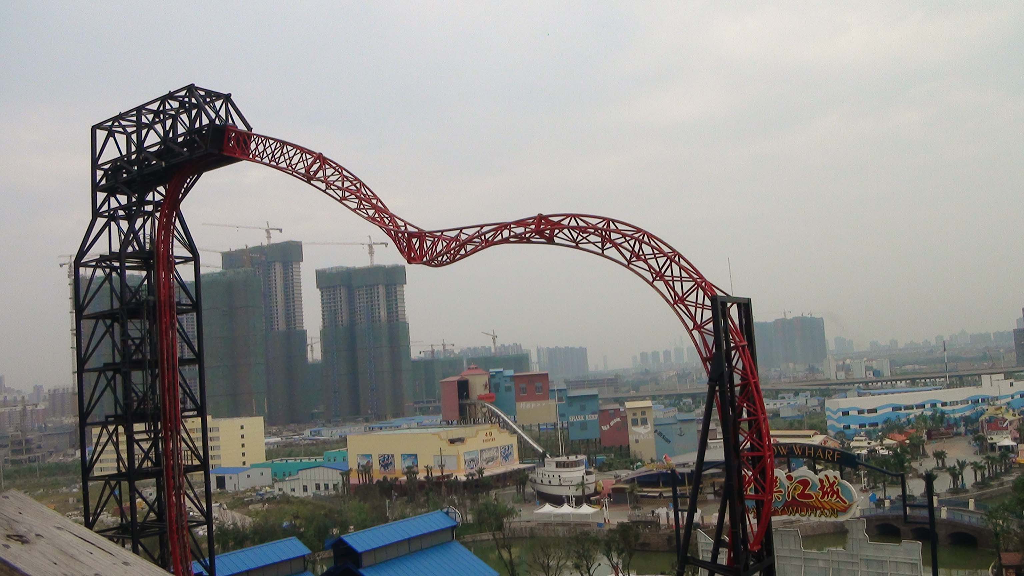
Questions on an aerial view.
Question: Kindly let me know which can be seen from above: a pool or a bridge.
bridge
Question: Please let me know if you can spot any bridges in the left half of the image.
No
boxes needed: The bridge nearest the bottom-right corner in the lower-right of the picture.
[849,496,1018,551]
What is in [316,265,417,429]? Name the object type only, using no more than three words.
building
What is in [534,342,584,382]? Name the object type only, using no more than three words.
building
